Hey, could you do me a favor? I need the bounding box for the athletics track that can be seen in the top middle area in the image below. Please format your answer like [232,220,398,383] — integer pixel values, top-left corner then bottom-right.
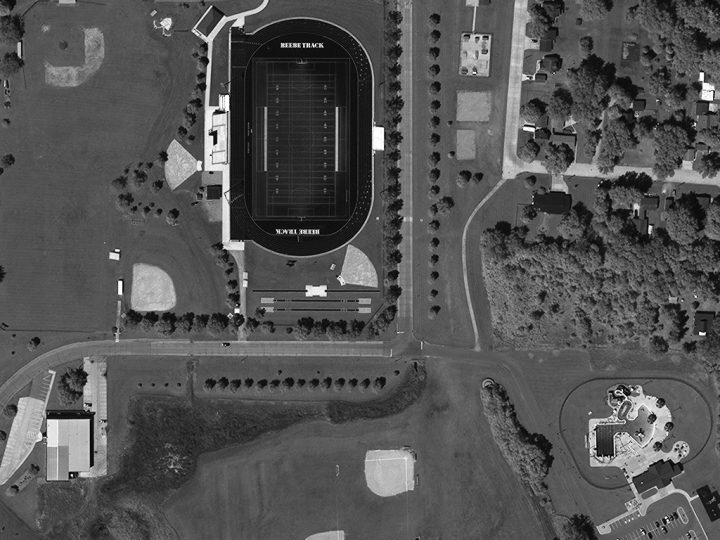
[229,16,375,259]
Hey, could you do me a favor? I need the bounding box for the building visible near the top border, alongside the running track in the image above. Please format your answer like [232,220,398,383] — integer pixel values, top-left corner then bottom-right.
[196,6,224,37]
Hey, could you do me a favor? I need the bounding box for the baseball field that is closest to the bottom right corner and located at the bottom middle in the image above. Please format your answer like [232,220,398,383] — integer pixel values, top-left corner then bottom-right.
[365,449,414,508]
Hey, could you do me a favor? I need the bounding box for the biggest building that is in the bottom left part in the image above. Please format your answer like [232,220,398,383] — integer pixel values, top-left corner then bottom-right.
[46,416,90,480]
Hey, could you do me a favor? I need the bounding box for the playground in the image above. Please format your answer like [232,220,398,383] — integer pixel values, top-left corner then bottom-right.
[458,33,492,77]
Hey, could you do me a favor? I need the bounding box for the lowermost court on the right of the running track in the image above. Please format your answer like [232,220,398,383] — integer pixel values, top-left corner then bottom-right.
[456,130,476,160]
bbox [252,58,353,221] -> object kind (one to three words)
sports field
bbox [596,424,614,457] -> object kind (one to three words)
swimming pool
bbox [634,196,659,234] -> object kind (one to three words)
house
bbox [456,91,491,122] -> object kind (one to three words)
sports court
